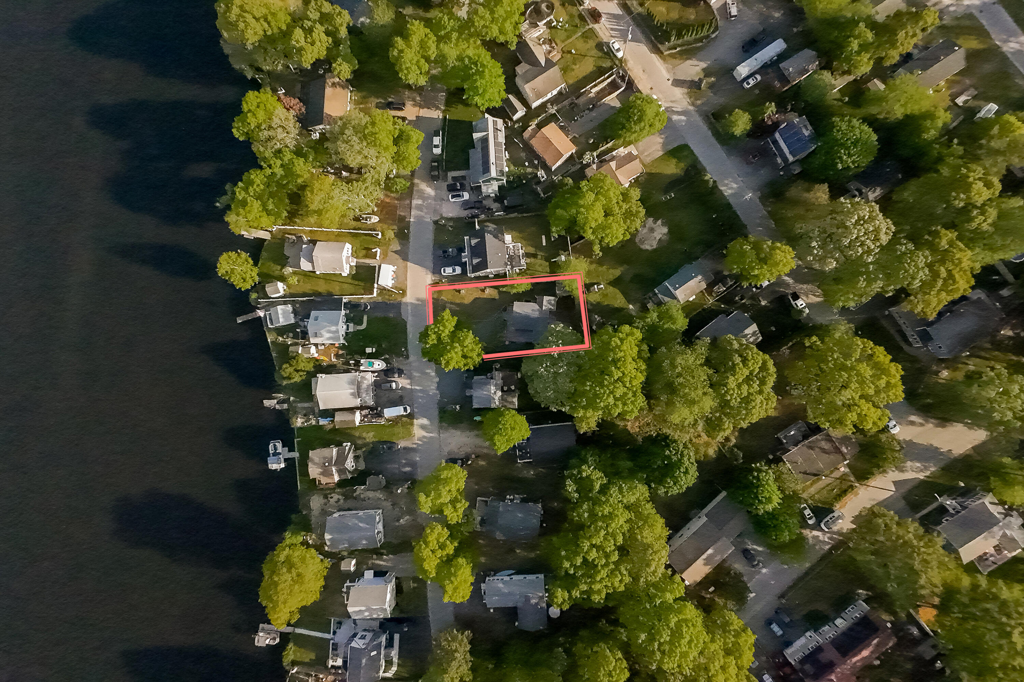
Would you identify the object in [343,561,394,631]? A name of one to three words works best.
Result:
house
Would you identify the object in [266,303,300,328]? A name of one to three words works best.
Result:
building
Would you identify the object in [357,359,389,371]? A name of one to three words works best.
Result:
boat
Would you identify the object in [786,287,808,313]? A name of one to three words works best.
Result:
truck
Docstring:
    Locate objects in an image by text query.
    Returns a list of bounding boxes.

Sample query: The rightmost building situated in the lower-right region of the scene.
[924,492,1024,573]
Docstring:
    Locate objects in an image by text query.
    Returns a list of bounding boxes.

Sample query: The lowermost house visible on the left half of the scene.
[327,618,400,682]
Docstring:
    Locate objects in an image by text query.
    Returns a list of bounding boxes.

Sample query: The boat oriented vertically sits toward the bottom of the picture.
[269,440,283,472]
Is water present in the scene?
Yes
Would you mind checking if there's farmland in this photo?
No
